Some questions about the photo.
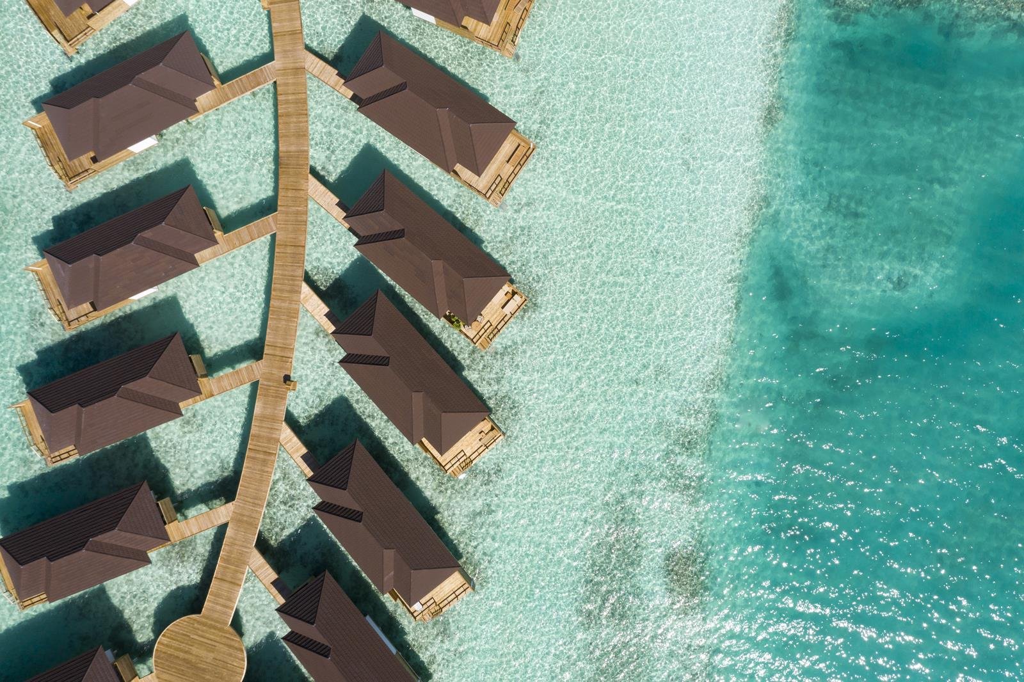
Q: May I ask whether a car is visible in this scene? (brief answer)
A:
No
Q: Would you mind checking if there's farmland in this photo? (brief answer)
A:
No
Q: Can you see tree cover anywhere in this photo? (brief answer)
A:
No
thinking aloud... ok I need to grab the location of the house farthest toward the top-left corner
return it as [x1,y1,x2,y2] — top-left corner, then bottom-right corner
[26,0,141,62]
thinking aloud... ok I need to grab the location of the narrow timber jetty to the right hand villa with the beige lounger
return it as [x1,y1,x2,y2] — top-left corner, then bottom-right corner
[301,279,344,337]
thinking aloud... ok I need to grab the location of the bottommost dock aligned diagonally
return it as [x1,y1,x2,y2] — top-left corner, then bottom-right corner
[250,546,294,604]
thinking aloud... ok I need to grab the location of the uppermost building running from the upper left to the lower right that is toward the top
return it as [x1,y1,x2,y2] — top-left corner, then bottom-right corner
[344,30,538,211]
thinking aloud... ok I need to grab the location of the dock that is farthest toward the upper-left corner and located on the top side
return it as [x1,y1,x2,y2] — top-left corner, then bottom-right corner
[223,62,277,103]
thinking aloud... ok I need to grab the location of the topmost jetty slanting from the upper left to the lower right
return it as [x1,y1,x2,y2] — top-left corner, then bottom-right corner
[307,51,353,98]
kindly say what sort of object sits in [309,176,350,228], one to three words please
pier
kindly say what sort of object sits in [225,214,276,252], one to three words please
pier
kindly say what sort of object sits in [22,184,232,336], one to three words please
house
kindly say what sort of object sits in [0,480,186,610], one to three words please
house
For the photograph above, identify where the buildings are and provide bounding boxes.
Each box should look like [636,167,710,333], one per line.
[25,641,140,682]
[276,570,429,682]
[331,289,507,478]
[344,30,538,211]
[0,480,186,610]
[343,169,530,354]
[22,30,232,195]
[306,439,477,623]
[5,332,217,471]
[370,0,536,66]
[22,184,232,336]
[26,0,141,62]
